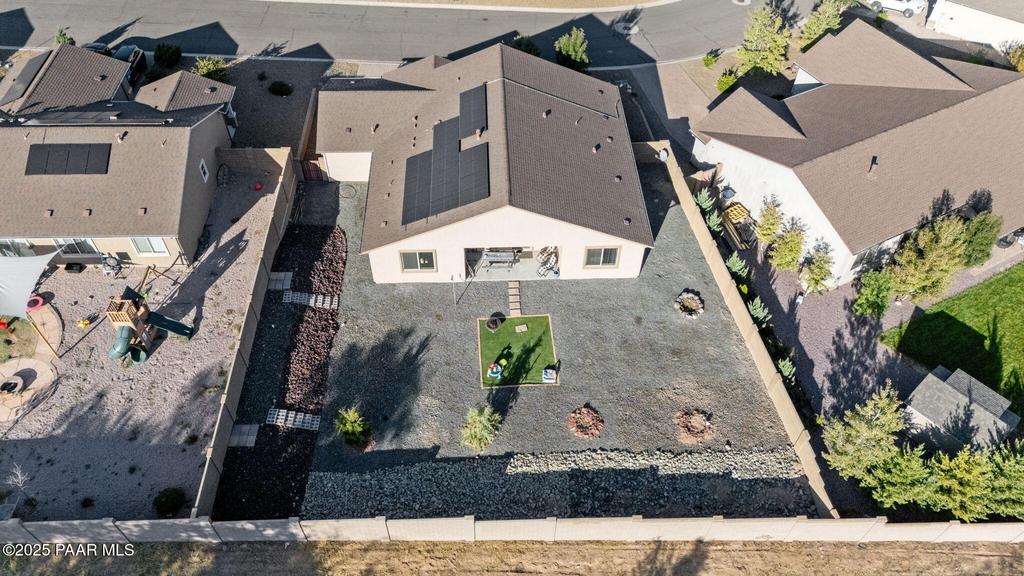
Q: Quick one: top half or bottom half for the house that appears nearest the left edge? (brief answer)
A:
top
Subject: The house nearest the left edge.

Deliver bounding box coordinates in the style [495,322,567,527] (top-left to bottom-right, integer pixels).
[0,43,250,267]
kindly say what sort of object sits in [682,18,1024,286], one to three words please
house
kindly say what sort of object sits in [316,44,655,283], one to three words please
house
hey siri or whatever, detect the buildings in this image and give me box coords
[682,18,1024,286]
[894,364,1015,451]
[925,0,1024,51]
[316,44,655,283]
[0,43,250,267]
